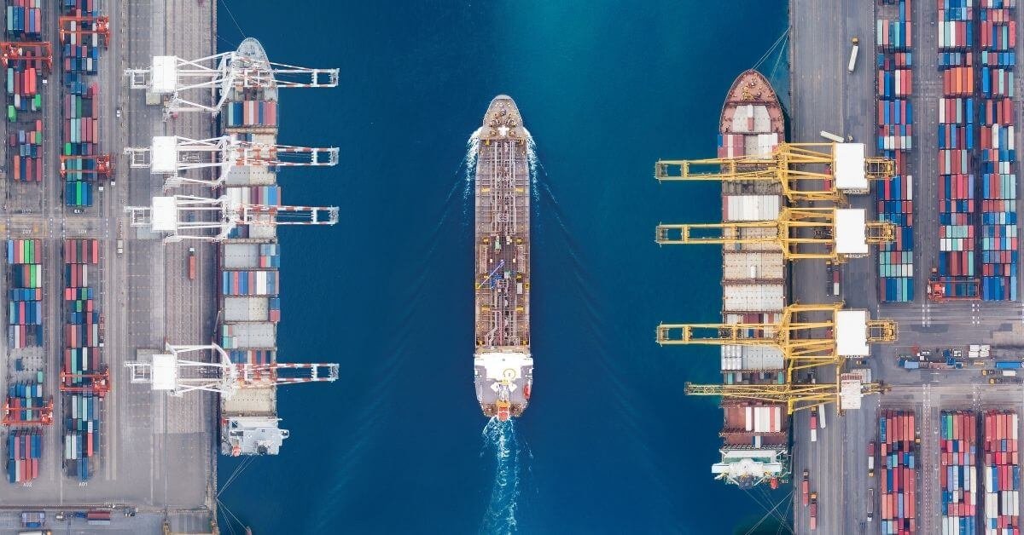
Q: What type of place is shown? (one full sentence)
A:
This looks like a port.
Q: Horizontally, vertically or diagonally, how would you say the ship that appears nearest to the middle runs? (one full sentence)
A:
The ship that appears nearest to the middle runs vertically in the image.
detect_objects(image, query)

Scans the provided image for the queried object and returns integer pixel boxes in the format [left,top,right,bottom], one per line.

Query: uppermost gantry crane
[58,14,117,41]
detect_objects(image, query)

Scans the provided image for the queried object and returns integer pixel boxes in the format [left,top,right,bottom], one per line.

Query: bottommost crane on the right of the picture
[684,353,889,422]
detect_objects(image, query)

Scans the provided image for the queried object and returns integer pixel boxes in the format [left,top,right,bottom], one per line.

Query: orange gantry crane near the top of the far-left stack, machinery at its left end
[0,40,59,67]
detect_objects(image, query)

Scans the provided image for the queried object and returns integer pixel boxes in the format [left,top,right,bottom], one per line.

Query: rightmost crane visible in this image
[920,276,983,303]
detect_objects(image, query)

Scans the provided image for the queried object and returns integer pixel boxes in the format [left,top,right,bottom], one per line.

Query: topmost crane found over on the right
[657,135,896,209]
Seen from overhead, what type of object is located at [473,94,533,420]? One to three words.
ship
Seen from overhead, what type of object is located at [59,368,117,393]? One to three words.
container crane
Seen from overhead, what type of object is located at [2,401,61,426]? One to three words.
container crane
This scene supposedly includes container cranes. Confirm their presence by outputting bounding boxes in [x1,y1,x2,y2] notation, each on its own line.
[657,135,896,209]
[125,336,337,404]
[659,293,897,370]
[59,368,117,393]
[58,14,117,41]
[657,203,896,272]
[125,52,337,117]
[58,153,120,178]
[0,40,59,67]
[125,128,337,192]
[920,276,983,303]
[125,187,337,251]
[2,401,61,426]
